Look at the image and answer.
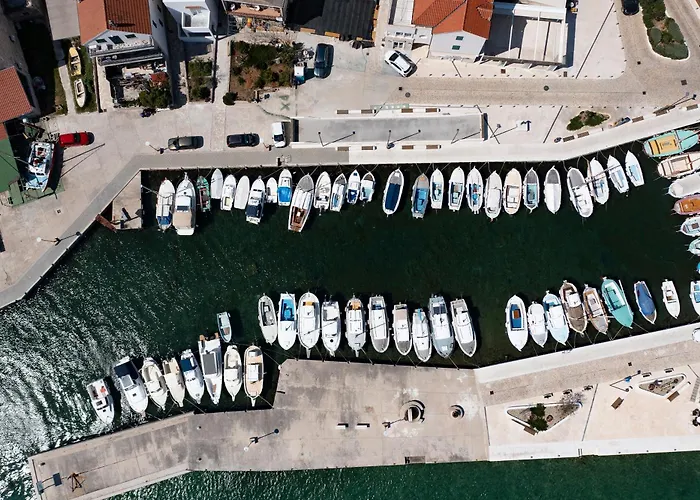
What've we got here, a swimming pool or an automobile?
automobile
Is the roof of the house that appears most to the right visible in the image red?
Yes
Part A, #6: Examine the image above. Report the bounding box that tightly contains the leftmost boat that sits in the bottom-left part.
[88,380,116,432]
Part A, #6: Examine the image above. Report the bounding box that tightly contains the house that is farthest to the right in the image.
[409,0,493,63]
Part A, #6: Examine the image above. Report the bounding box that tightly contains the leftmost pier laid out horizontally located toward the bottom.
[14,358,489,500]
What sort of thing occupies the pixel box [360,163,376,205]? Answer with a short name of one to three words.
boat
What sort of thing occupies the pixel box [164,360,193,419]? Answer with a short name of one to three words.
boat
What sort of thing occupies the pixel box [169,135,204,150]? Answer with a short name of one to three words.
car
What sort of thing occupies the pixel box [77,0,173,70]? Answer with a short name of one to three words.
house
